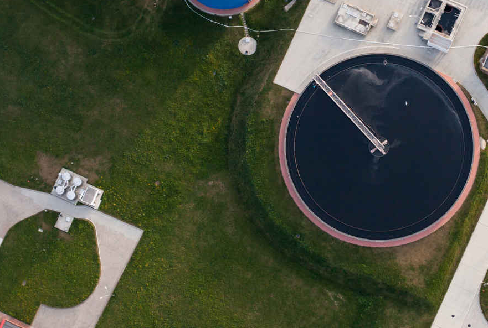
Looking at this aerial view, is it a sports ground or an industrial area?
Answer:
industrial area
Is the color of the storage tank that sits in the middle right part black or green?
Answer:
black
